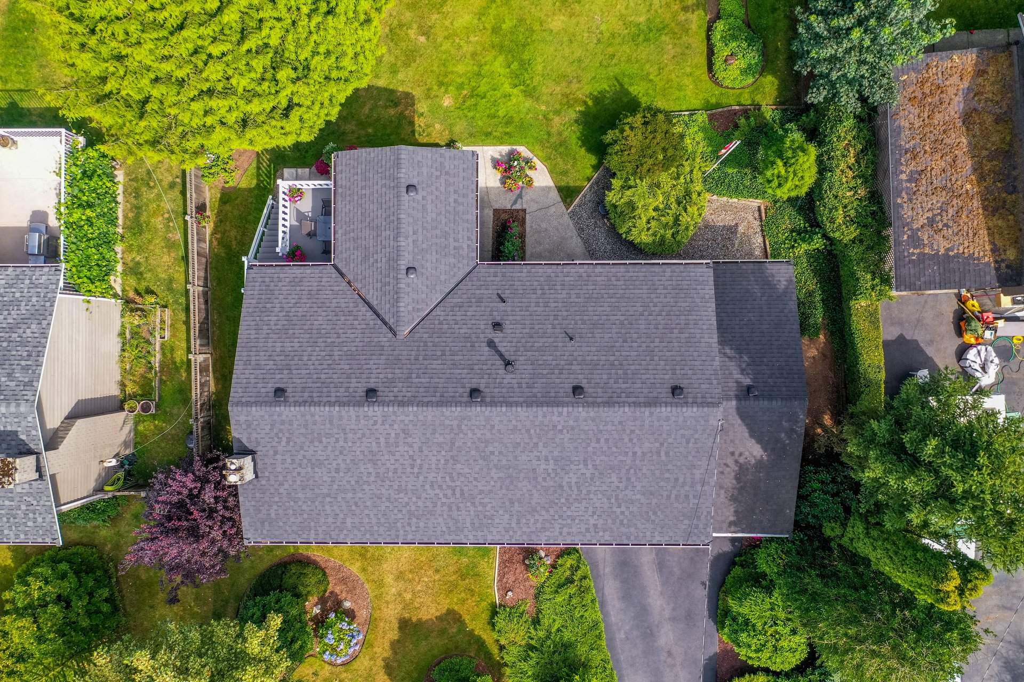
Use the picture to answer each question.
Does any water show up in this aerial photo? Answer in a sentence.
No, there is no water in the image.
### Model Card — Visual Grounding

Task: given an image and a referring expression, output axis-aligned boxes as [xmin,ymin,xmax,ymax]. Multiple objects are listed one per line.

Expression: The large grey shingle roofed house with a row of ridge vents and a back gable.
[222,146,809,547]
